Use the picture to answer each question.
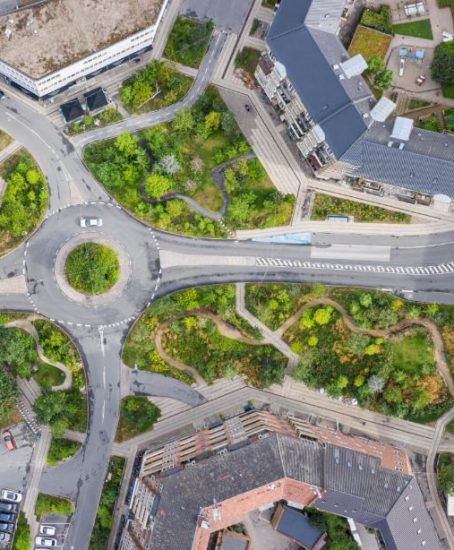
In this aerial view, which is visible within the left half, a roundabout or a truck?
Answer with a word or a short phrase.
roundabout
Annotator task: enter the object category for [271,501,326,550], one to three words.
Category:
building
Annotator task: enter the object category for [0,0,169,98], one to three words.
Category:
building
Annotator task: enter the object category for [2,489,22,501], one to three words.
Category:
vehicle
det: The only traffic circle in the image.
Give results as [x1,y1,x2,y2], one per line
[23,202,161,327]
